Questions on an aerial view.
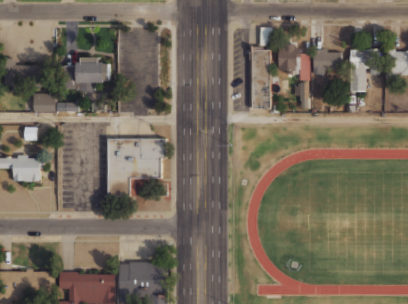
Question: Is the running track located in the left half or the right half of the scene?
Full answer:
The running track sits on the right side.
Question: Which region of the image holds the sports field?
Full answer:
The sports field is in the bottom right part of the image.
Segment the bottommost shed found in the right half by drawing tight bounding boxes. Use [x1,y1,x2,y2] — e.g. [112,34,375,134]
[296,80,312,108]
